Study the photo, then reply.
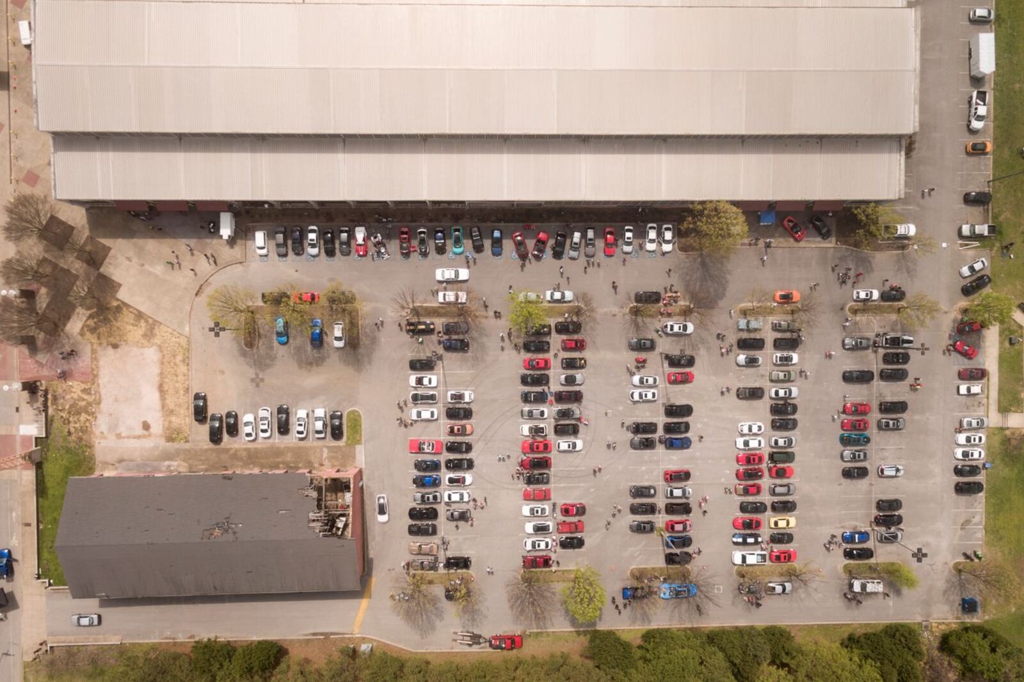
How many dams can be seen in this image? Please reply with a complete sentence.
No dams are visible.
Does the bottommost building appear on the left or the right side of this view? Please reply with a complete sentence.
The bottommost building sits on the left side.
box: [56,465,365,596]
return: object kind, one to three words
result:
building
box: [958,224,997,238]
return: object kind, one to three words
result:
vehicle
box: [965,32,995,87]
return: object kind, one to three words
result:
trailer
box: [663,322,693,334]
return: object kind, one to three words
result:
vehicle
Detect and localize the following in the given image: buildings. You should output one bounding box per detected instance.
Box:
[56,465,365,596]
[34,0,919,213]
